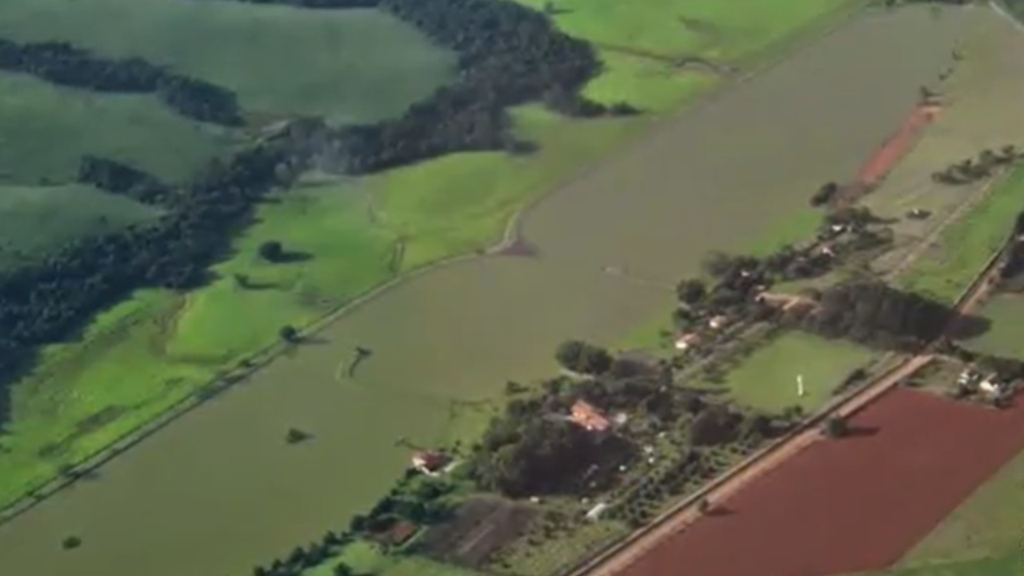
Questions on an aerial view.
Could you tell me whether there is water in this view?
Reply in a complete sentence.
Yes, water shows up in the scene.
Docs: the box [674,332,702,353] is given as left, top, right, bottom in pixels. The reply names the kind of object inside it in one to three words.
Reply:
house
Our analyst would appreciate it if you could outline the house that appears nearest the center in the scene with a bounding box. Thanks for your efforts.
[568,400,614,434]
